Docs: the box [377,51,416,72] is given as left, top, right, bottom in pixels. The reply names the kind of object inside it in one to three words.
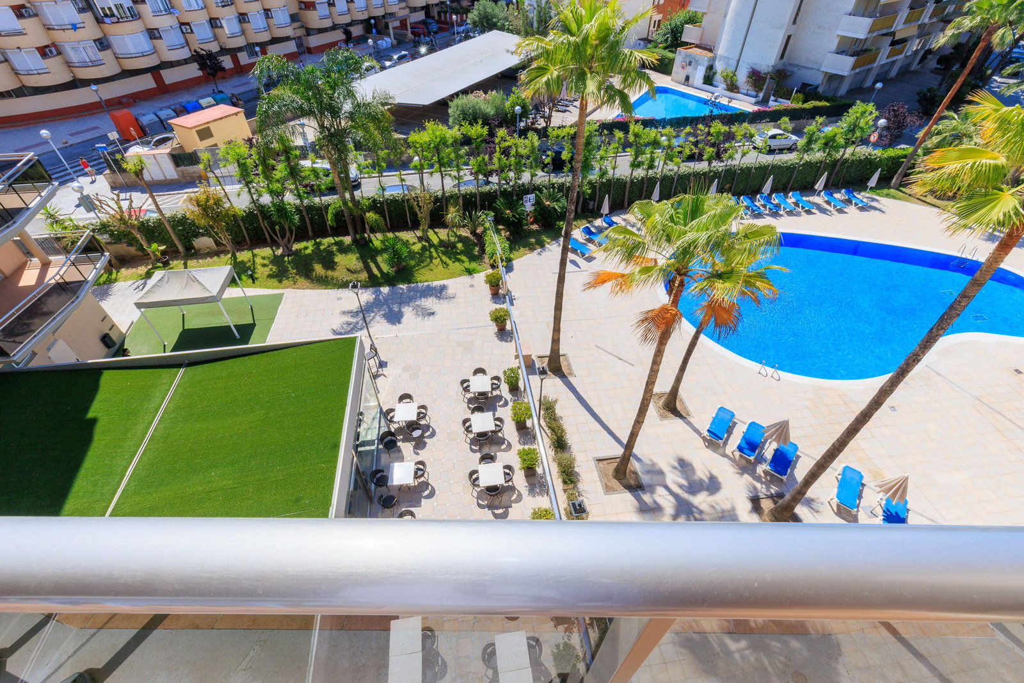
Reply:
car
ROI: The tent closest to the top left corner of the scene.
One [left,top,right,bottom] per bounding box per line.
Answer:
[129,264,252,351]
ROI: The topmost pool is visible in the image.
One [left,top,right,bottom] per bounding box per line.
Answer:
[615,85,750,120]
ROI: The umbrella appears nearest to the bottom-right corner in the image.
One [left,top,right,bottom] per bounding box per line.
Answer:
[857,474,909,520]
